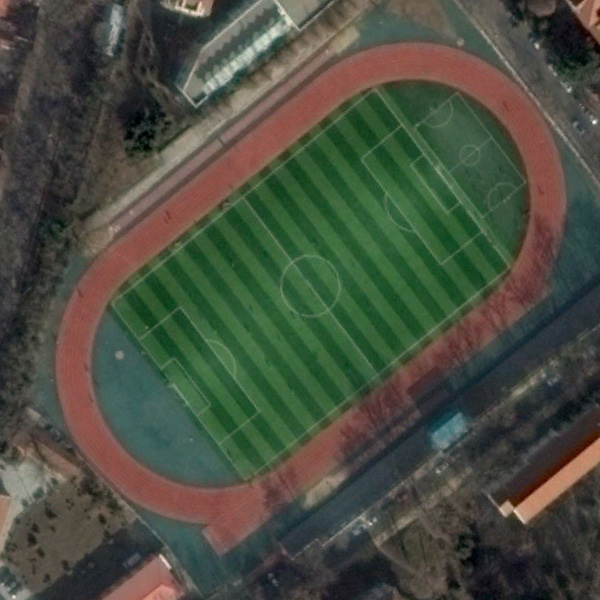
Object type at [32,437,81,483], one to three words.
house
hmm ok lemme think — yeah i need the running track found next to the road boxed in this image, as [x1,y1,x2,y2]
[51,40,570,558]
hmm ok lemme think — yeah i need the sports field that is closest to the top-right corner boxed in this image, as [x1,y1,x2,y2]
[388,83,530,257]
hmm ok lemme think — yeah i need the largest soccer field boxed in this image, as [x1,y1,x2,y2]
[107,86,515,481]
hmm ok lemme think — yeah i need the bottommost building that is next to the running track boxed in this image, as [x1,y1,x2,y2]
[95,553,195,600]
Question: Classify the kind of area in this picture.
sports ground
